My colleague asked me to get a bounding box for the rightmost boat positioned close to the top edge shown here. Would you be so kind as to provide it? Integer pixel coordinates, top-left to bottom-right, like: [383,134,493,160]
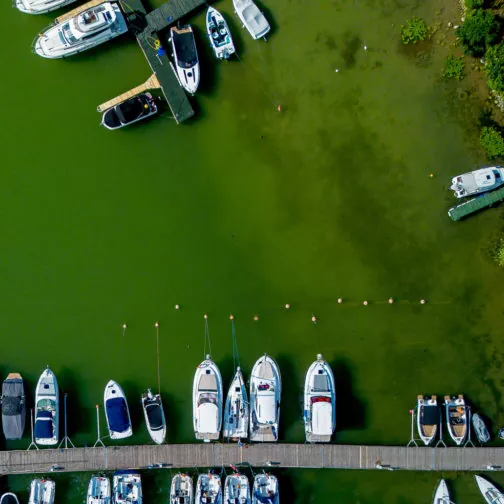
[234,0,270,41]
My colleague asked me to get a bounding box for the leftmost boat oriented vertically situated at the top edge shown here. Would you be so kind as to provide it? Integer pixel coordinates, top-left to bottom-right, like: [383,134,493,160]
[170,22,200,98]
